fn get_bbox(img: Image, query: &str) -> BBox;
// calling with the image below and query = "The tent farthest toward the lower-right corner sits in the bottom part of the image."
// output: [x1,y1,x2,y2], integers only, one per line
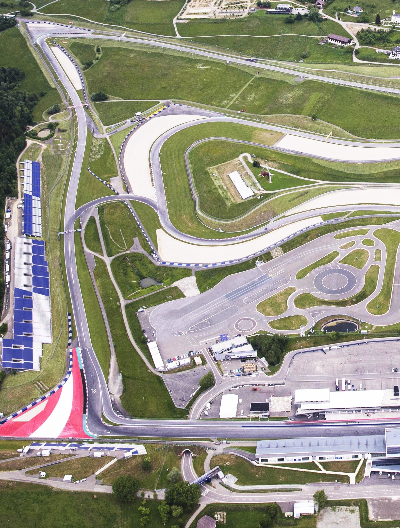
[219,393,239,418]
